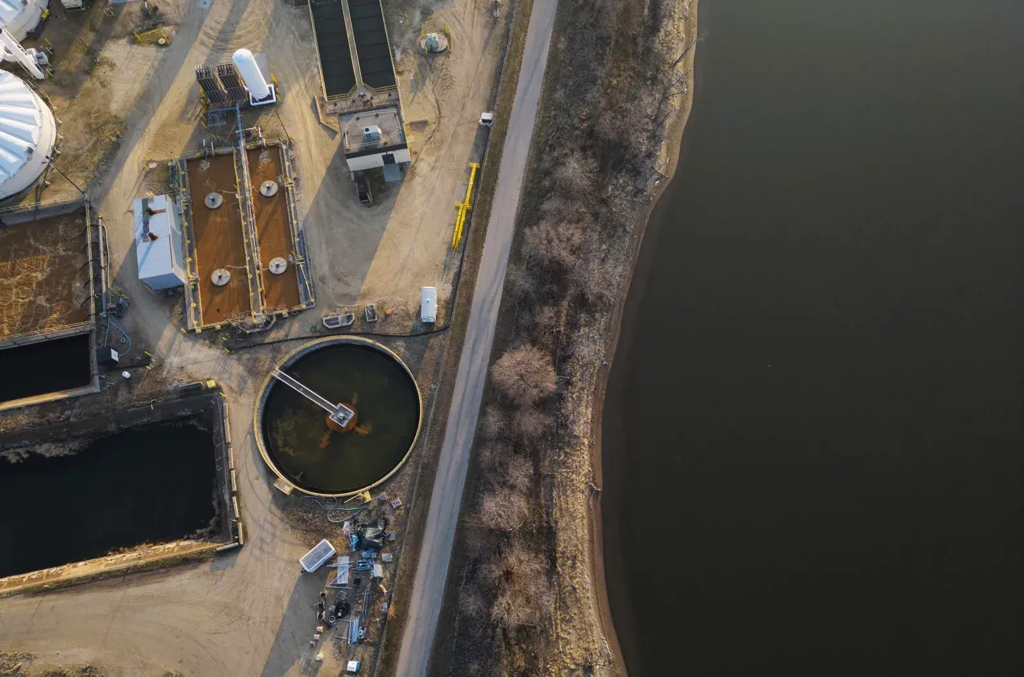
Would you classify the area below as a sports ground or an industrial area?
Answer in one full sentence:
It's an industrial area.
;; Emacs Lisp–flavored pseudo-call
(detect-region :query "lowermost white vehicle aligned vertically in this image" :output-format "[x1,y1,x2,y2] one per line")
[420,284,437,326]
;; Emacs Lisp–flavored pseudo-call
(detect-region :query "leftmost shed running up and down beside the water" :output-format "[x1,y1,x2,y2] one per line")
[134,194,184,288]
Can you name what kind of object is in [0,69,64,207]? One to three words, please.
storage tank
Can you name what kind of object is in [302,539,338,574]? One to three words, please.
trailer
